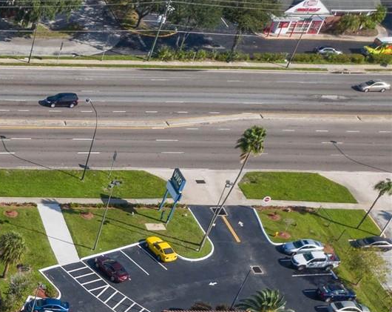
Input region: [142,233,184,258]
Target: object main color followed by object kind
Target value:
yellow car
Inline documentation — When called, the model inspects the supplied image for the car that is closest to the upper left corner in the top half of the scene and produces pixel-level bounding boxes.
[43,91,79,107]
